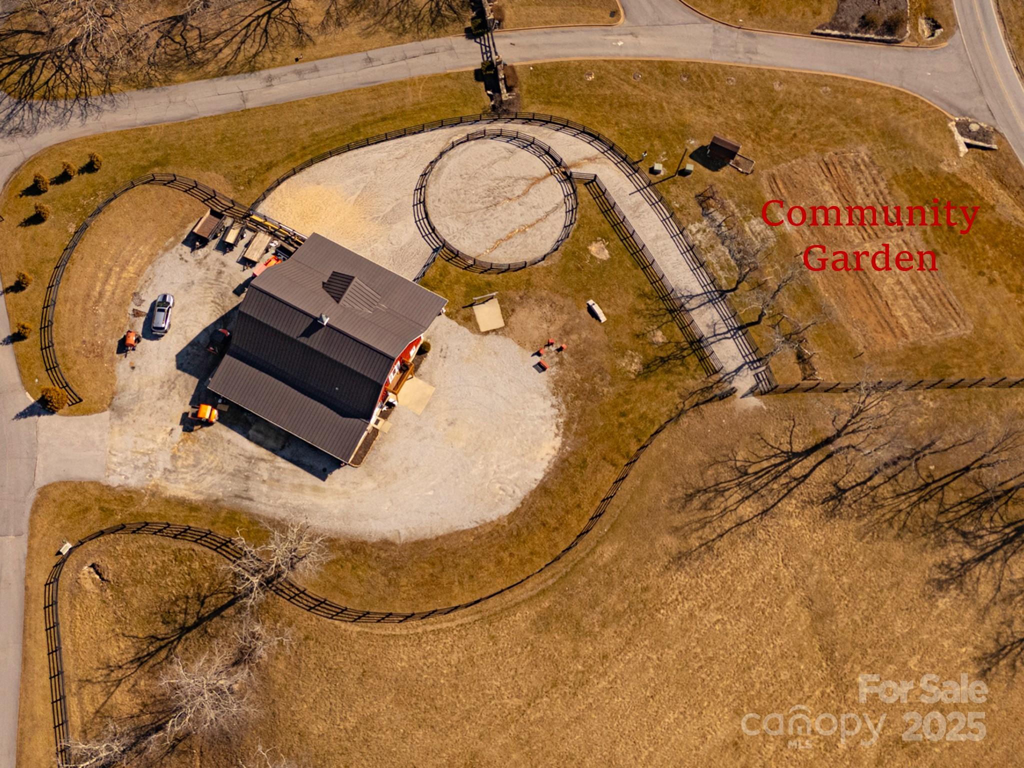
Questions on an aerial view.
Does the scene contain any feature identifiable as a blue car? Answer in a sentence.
No, there is no blue car in the image.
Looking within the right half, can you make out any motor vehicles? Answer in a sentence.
No, no motor vehicle is visible within the right half.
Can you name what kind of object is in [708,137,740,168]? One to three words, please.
shed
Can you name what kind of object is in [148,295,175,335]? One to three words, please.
car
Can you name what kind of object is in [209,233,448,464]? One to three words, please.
barn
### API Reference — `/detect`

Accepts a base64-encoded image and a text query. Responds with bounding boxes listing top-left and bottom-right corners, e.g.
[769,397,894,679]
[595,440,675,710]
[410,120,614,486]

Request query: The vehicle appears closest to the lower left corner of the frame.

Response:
[183,405,222,427]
